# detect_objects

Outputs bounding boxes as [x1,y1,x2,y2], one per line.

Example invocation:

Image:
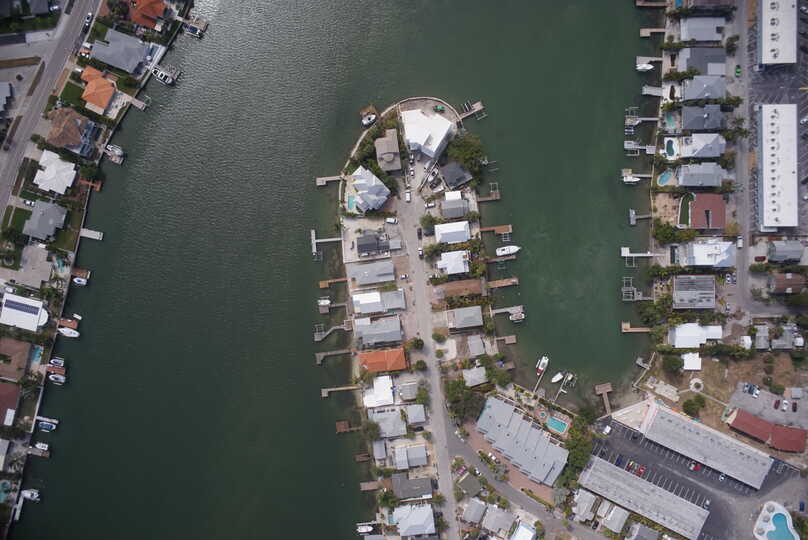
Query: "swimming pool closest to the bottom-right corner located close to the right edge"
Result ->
[766,512,795,540]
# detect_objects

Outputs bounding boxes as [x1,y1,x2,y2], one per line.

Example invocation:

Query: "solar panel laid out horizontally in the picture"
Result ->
[4,299,39,313]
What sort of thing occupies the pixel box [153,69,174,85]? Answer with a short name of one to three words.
boat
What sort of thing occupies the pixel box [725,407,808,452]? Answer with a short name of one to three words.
building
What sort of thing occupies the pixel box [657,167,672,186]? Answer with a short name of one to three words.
swimming pool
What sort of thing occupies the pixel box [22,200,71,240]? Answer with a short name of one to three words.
house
